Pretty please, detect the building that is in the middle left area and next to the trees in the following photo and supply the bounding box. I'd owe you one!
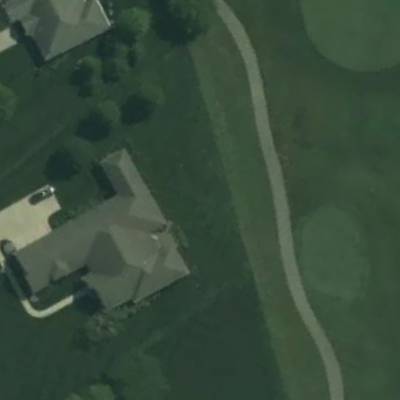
[15,150,190,313]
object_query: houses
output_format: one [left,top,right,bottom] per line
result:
[0,0,110,60]
[15,150,190,313]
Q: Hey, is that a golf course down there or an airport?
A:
golf course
